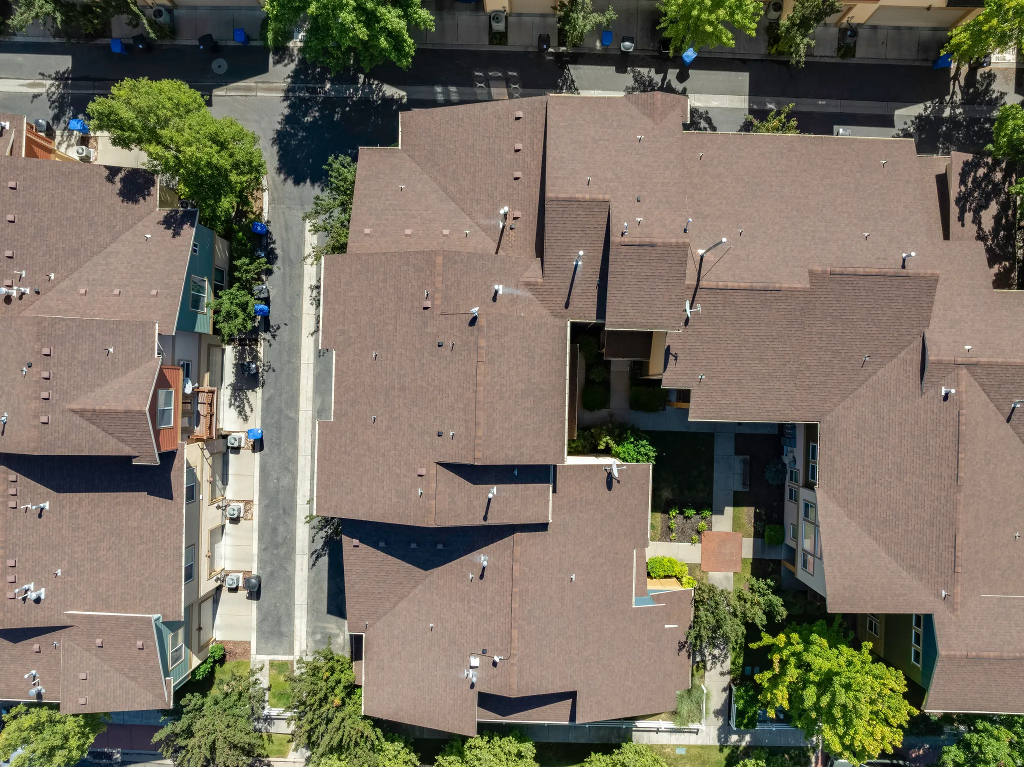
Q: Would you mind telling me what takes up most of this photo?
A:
buildings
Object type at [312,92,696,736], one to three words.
building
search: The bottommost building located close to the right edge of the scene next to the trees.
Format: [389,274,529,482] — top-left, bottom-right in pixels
[637,129,1024,715]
